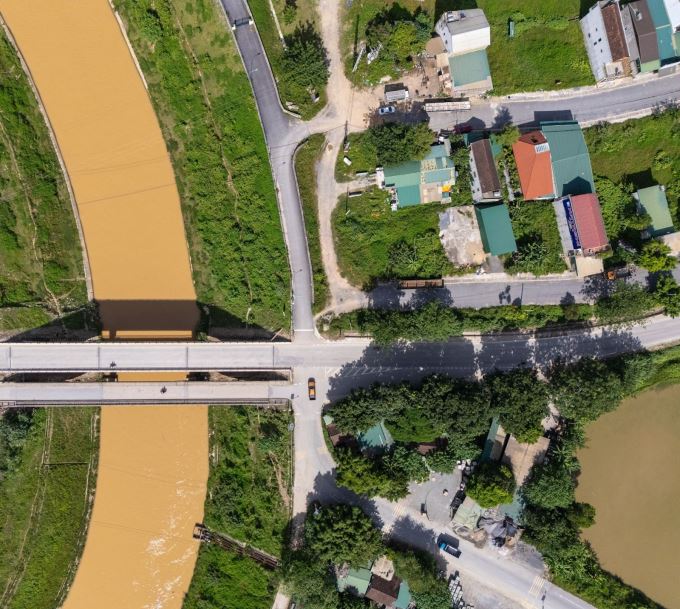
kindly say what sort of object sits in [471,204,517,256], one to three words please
house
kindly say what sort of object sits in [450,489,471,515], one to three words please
truck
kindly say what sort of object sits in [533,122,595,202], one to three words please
barn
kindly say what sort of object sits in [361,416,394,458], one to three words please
shed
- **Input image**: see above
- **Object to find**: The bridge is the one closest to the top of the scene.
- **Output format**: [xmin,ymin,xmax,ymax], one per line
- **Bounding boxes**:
[0,342,294,374]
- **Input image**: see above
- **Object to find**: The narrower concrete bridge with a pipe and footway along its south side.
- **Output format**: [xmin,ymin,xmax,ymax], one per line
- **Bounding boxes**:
[0,379,292,406]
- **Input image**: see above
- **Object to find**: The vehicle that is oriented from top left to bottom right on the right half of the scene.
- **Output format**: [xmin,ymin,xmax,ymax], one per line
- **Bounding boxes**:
[438,540,464,562]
